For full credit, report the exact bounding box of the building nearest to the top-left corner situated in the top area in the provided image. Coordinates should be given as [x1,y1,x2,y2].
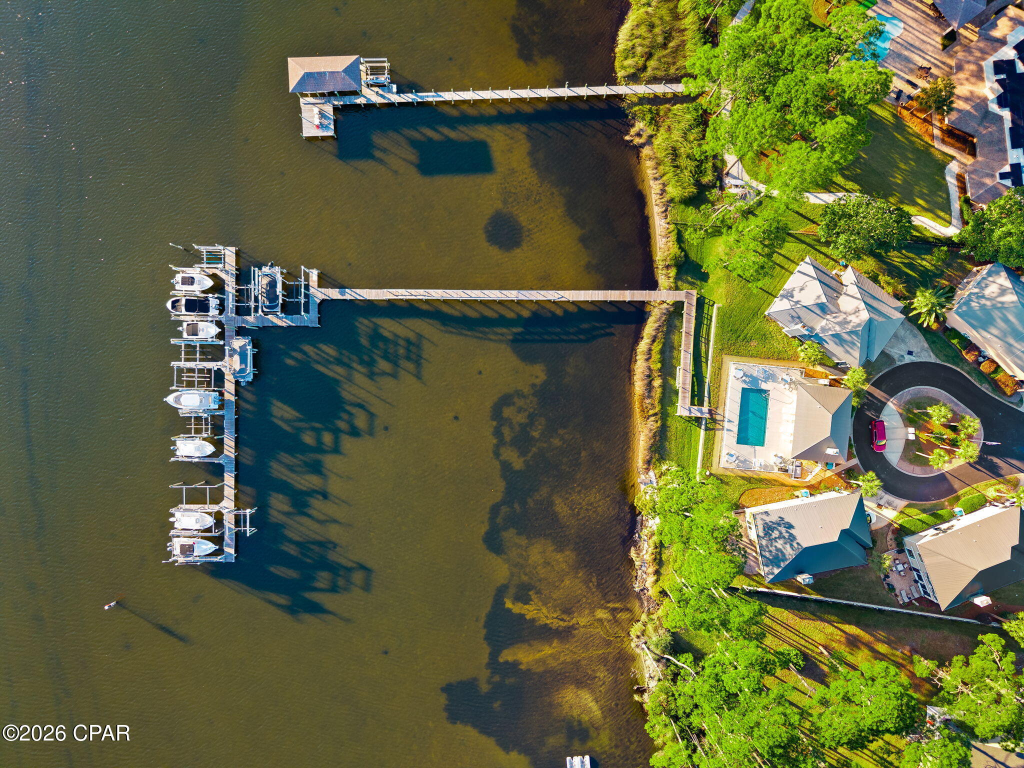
[288,55,363,98]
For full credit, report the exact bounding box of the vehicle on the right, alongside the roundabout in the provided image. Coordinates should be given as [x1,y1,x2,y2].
[867,419,886,452]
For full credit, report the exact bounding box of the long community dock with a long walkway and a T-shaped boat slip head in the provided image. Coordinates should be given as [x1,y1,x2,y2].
[176,247,716,564]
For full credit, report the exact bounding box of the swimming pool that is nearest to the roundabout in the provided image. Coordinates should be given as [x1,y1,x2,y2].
[720,363,852,472]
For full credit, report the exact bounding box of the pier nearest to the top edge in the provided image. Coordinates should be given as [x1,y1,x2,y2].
[298,63,684,142]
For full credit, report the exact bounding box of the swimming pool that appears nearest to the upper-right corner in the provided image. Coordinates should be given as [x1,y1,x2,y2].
[855,12,906,63]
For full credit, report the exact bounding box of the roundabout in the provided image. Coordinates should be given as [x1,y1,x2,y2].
[880,386,984,476]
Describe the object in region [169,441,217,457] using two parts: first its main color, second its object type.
white boat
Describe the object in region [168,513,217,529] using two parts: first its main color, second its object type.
white boat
